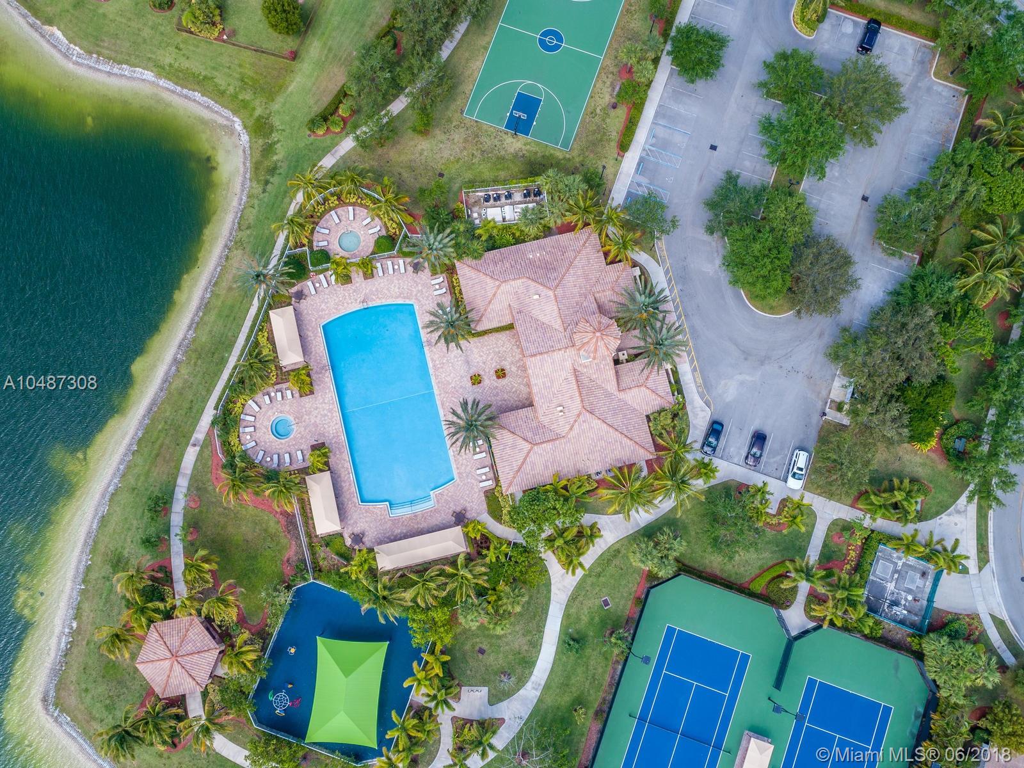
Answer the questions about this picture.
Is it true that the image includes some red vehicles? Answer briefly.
No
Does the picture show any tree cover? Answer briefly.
Yes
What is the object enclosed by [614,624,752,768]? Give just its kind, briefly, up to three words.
tennis court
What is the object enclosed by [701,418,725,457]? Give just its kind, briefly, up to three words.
car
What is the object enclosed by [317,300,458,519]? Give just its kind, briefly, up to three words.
swimming pool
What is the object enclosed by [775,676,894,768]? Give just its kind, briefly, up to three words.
tennis court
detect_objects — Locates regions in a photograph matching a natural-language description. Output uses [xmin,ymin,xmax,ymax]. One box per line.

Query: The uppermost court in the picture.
[464,0,625,153]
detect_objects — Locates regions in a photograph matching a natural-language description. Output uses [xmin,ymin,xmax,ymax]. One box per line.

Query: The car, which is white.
[784,448,811,490]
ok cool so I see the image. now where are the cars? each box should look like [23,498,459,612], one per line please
[854,18,881,58]
[743,429,768,468]
[701,418,725,457]
[784,448,811,490]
